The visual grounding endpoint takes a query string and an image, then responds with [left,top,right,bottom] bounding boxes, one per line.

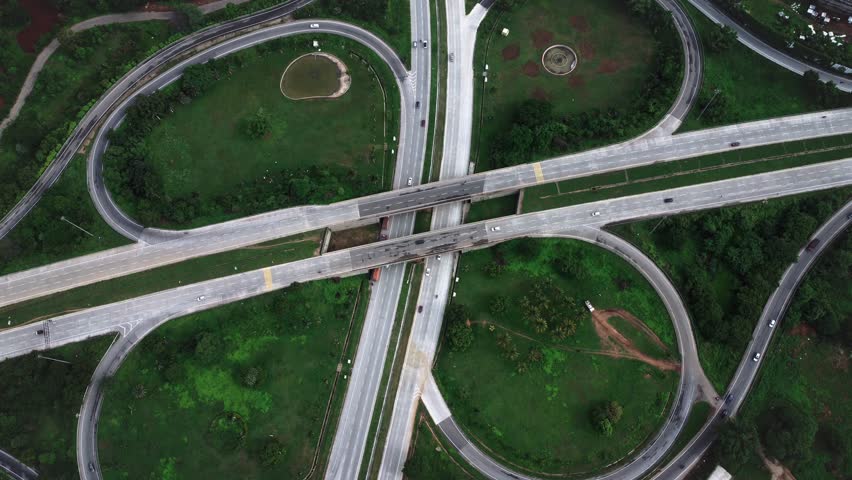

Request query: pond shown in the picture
[280,52,349,99]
